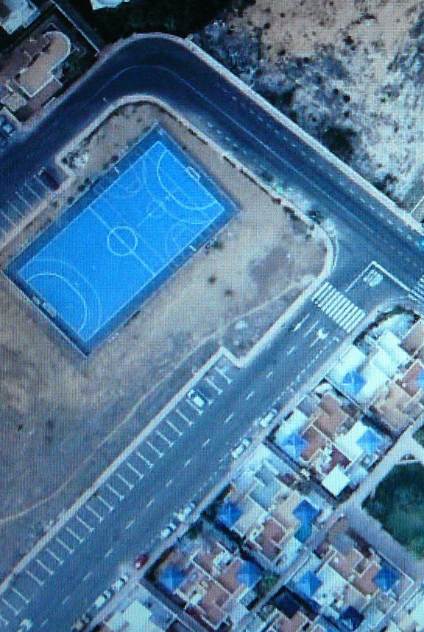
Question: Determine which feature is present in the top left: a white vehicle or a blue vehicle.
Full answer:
Visible in the top left is a blue vehicle.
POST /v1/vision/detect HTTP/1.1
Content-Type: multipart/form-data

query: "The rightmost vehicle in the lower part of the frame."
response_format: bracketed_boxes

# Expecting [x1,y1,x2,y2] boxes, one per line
[259,407,277,427]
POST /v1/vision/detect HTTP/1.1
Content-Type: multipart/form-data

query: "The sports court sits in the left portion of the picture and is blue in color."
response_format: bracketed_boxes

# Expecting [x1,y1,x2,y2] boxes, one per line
[3,124,241,354]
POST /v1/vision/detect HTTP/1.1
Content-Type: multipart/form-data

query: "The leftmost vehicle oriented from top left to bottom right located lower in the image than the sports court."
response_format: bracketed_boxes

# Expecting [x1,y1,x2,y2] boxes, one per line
[188,389,207,408]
